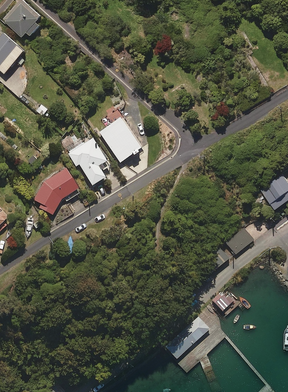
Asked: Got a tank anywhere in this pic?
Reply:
No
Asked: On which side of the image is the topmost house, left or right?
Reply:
left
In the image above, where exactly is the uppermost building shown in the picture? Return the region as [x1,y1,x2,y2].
[4,0,44,37]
